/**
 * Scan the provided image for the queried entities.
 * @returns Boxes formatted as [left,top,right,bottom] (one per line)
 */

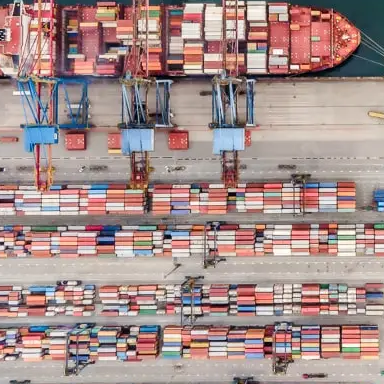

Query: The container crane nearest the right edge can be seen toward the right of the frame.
[289,173,312,220]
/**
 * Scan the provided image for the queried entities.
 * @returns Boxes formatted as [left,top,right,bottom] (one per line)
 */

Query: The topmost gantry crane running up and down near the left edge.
[14,0,101,192]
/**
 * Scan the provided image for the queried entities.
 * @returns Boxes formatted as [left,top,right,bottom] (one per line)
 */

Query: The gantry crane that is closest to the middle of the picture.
[201,220,226,269]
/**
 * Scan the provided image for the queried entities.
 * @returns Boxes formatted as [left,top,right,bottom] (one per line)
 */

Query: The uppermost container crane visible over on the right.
[209,0,267,185]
